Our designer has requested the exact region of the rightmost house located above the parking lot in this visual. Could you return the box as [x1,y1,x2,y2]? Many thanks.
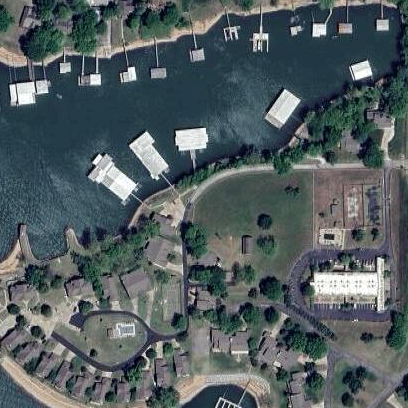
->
[367,108,393,128]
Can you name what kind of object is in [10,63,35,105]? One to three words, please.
pier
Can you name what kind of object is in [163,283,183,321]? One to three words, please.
sports court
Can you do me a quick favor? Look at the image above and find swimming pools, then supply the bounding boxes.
[319,228,345,248]
[116,322,136,336]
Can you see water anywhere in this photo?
Yes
